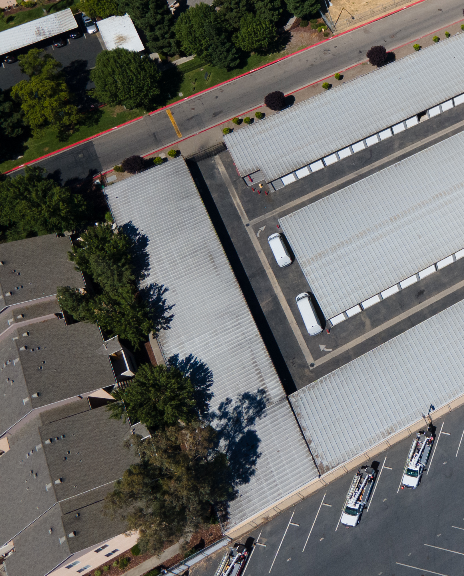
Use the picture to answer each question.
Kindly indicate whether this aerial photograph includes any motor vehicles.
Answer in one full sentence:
Yes, there's a motor vehicle here.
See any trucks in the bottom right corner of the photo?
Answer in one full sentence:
Yes, you'll find a truck in the bottom right corner of the photo.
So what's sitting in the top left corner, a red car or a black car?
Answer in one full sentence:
The one visible in the top left corner is a black car.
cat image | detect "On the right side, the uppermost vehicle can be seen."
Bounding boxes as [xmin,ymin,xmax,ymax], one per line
[267,232,296,275]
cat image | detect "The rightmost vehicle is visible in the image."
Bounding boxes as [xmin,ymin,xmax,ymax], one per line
[400,428,439,498]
